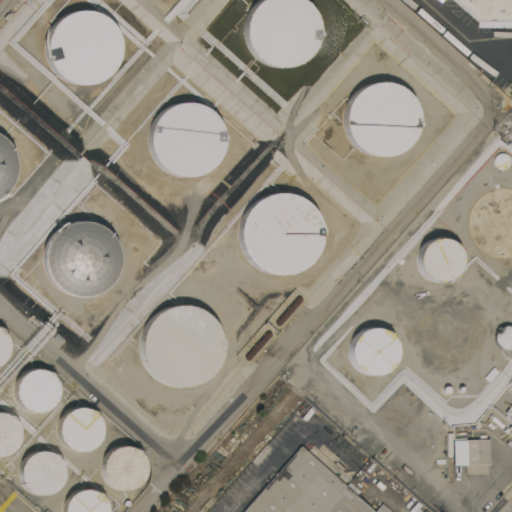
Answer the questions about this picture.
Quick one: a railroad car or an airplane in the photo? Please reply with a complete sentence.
There is a railroad car in the scene.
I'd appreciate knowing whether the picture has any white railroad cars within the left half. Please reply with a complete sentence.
No, no white railroad car appears within the left half.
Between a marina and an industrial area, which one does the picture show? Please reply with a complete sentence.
This image shows an industrial area.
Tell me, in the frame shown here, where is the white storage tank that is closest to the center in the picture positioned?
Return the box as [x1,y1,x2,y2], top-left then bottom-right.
[239,194,326,276]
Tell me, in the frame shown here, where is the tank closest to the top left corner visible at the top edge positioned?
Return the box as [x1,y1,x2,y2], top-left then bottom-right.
[43,10,125,88]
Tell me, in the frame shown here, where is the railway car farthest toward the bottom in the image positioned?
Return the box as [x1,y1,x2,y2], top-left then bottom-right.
[468,54,498,79]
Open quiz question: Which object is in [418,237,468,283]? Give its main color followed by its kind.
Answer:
white storage tank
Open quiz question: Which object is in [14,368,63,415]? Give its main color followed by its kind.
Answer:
white storage tank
